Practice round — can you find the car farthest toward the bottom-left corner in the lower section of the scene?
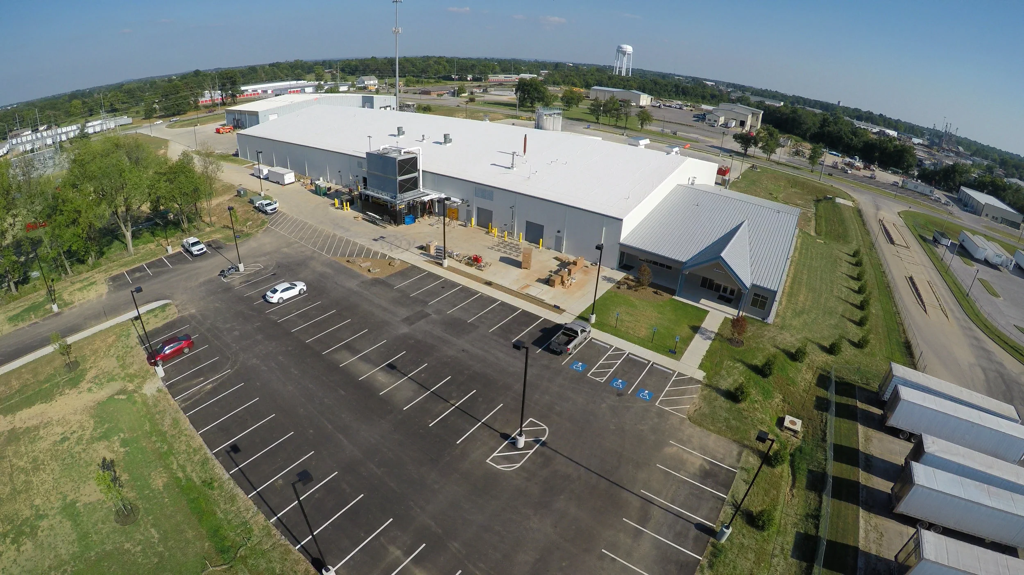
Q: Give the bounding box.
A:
[144,335,193,366]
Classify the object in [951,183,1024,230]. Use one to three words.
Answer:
building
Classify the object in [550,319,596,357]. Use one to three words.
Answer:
truck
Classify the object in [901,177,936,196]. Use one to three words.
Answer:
building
